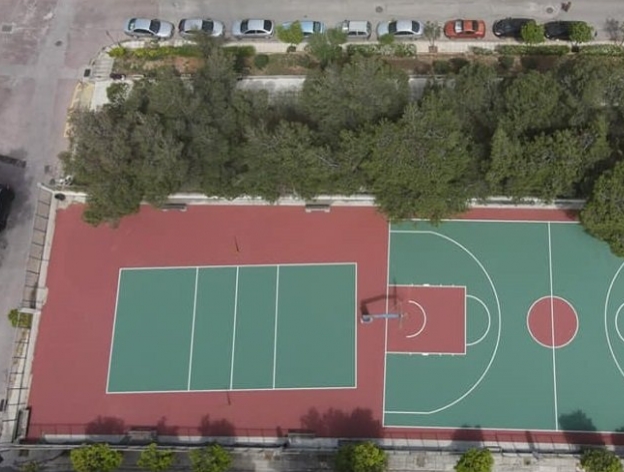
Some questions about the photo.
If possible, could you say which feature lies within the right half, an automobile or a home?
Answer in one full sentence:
The one visible within the right half is an automobile.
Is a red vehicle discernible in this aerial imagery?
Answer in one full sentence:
Yes, a red vehicle can be made out from above.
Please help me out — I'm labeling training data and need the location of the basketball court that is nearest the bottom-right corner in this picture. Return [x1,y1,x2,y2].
[381,219,624,433]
